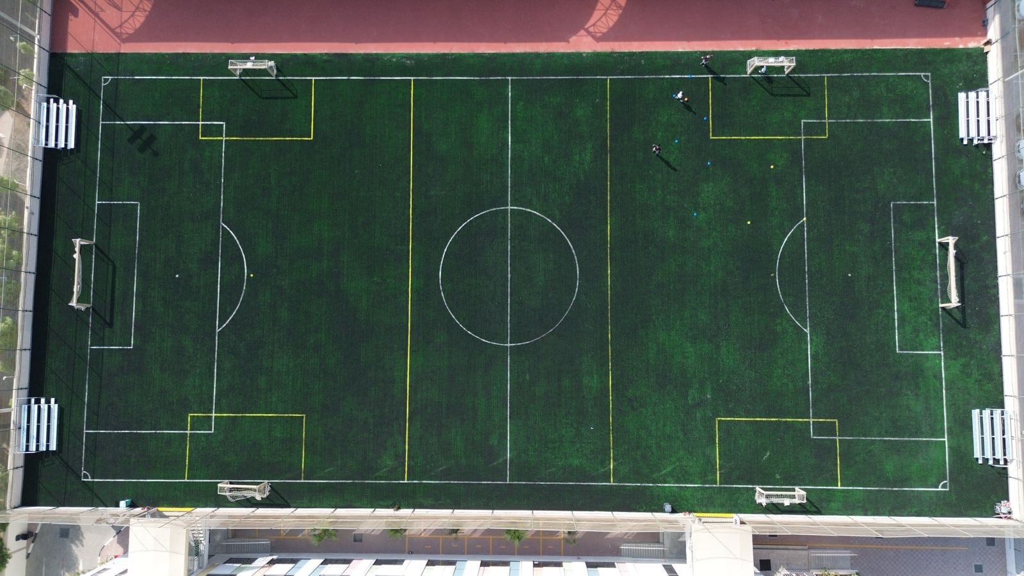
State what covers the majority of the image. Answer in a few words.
grass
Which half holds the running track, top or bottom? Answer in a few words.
top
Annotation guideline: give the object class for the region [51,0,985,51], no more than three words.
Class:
running track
